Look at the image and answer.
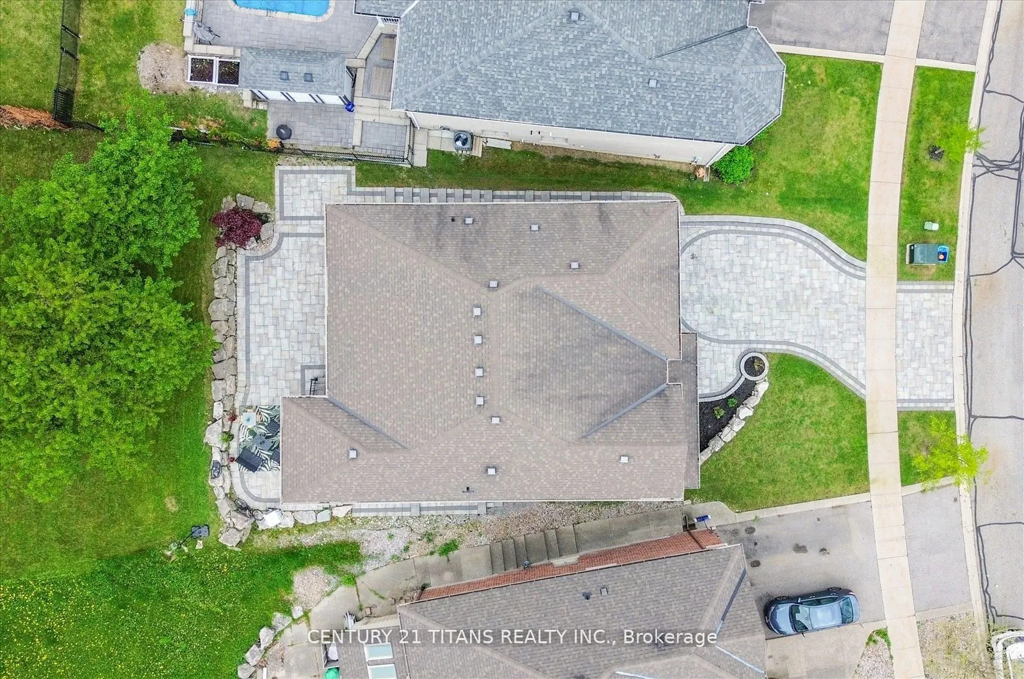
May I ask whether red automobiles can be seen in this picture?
No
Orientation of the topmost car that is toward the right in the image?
horizontally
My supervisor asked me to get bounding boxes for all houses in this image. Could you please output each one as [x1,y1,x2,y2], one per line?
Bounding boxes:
[279,199,703,506]
[338,515,769,679]
[352,0,789,171]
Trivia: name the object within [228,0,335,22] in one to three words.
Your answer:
swimming pool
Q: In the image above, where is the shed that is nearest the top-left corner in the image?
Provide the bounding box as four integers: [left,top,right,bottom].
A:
[238,45,351,105]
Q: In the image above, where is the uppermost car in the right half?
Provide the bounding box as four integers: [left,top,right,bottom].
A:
[762,585,859,639]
